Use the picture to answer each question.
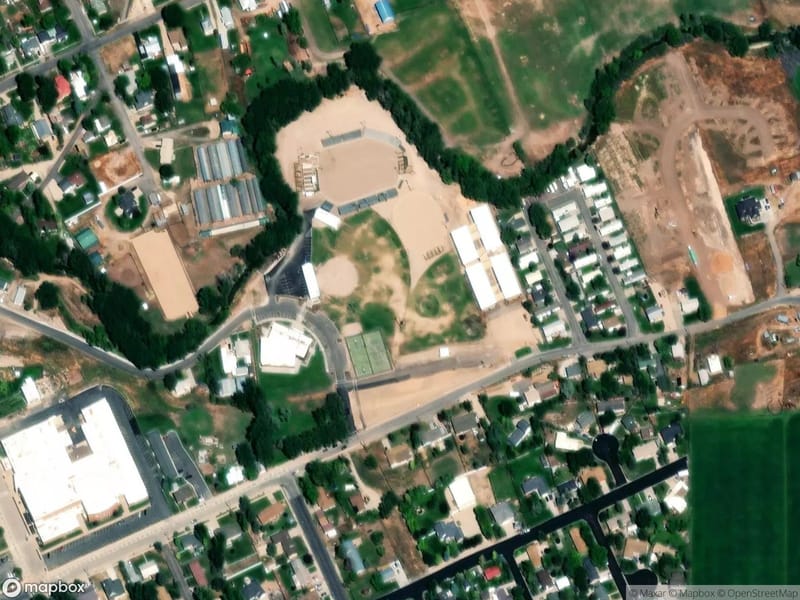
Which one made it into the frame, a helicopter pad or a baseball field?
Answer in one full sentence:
Visible in the photo is a baseball field.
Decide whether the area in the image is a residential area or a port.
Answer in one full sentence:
It's a residential area.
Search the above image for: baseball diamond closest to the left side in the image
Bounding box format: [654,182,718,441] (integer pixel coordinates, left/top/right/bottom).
[312,208,410,352]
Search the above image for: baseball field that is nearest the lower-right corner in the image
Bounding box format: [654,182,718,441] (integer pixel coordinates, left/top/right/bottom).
[398,252,484,354]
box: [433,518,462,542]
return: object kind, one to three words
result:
house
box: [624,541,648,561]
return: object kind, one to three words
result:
house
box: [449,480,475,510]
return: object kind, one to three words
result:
barn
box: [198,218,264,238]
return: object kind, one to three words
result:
building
